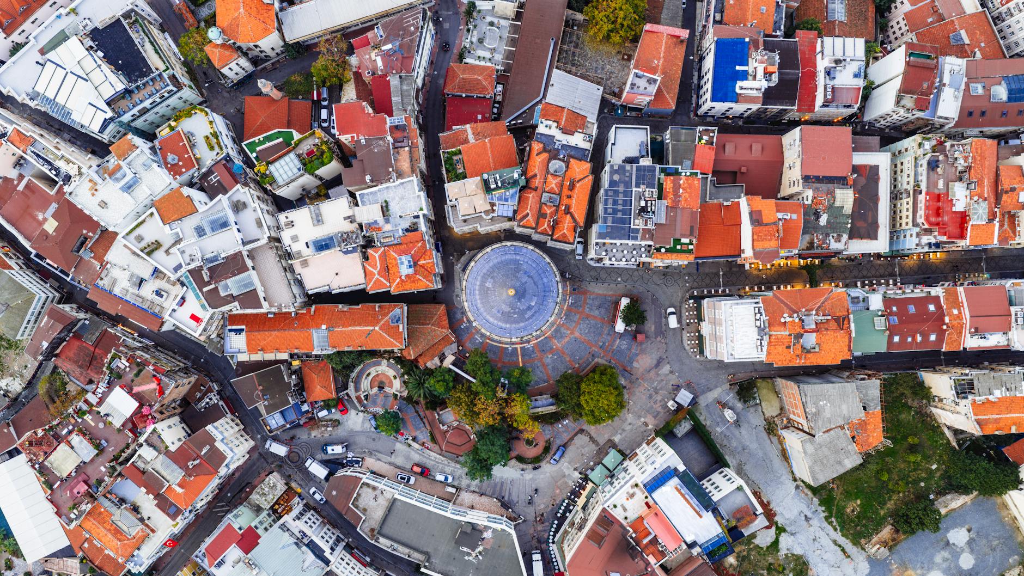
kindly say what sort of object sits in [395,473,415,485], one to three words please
vehicle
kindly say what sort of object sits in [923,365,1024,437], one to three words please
house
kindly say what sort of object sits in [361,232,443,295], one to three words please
building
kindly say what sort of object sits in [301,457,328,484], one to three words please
truck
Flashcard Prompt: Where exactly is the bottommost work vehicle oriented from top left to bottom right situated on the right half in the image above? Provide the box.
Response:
[716,396,736,421]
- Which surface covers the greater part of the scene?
buildings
